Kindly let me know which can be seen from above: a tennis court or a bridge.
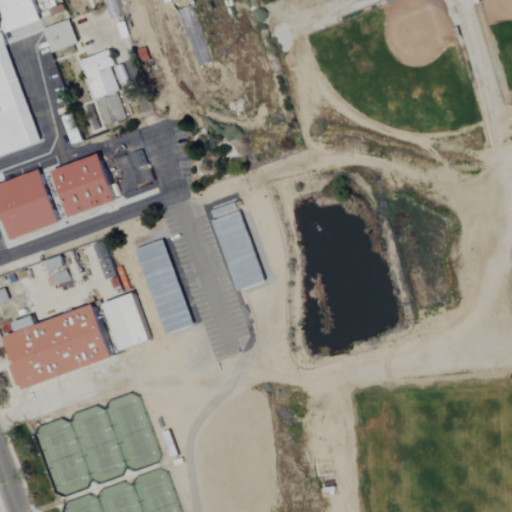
tennis court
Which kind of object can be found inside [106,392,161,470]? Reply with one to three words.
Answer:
tennis court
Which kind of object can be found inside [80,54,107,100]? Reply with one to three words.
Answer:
house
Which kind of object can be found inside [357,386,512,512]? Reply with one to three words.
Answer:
sports field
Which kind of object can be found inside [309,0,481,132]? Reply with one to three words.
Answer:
baseball field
